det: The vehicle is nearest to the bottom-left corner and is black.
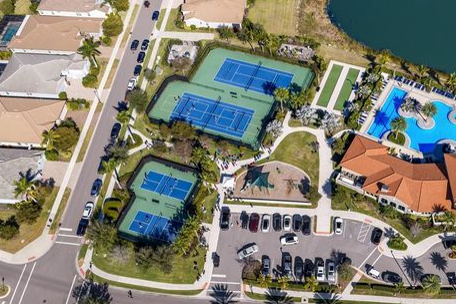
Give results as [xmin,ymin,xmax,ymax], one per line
[76,218,89,238]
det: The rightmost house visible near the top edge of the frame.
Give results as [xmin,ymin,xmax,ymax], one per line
[181,0,246,28]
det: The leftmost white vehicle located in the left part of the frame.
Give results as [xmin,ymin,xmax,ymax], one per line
[82,201,94,218]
